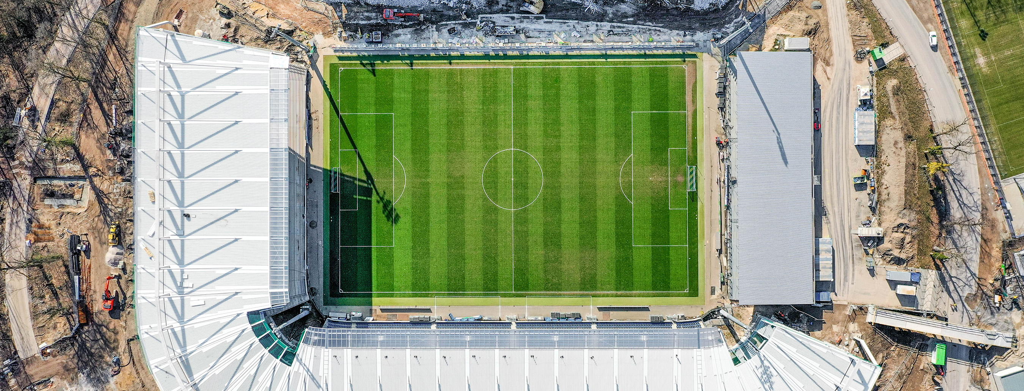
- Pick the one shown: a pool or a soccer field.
soccer field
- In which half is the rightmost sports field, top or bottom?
top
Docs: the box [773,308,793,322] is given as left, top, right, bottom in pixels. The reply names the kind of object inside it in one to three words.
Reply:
work vehicle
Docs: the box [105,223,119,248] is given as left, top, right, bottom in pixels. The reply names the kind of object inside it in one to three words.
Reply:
work vehicle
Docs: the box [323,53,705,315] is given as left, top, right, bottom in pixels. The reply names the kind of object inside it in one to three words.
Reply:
soccer field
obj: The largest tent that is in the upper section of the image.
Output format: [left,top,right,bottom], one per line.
[853,111,875,146]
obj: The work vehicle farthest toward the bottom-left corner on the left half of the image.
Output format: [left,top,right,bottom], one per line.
[96,277,118,315]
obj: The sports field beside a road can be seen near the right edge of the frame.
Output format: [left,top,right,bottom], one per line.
[944,0,1024,179]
